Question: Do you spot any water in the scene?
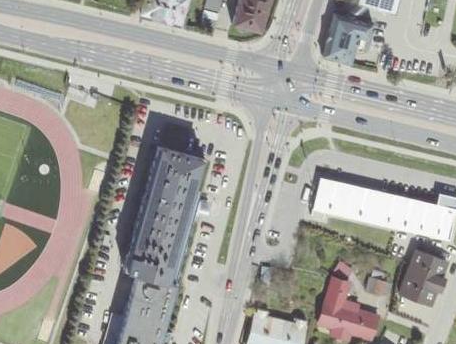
No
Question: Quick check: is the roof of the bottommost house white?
Yes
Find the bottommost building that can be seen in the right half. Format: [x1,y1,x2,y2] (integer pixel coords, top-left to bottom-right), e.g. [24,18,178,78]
[247,309,307,344]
